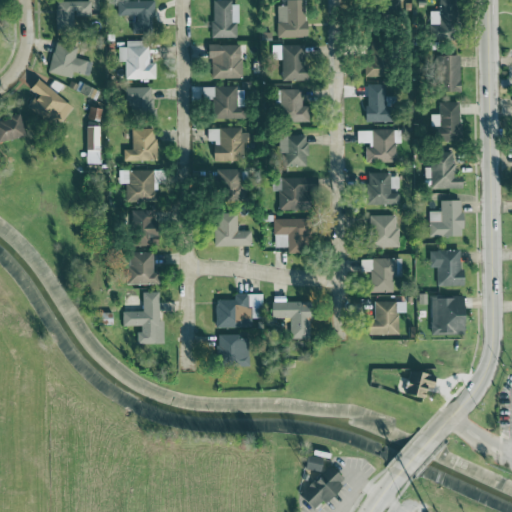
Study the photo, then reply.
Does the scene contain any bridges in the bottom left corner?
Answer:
No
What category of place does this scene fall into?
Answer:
residential area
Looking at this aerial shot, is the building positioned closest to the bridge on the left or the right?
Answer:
right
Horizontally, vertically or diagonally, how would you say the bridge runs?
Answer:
diagonally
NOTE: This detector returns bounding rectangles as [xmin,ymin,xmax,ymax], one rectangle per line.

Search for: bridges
[386,412,455,482]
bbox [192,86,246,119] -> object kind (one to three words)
house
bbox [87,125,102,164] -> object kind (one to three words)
shed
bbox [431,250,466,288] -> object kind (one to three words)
house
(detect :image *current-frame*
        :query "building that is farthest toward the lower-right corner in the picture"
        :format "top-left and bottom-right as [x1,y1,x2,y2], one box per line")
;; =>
[408,370,440,400]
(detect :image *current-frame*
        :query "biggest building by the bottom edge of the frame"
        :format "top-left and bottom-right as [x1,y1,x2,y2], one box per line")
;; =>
[303,464,348,510]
